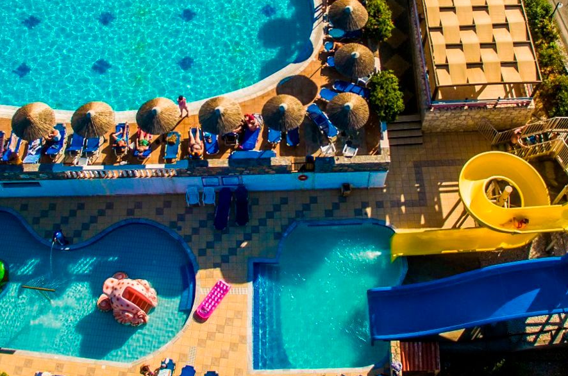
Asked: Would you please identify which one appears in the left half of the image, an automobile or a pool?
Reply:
pool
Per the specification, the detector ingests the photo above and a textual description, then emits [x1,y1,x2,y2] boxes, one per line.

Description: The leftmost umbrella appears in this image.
[14,103,55,143]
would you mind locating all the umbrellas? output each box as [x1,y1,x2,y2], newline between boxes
[14,103,55,143]
[198,98,241,138]
[135,97,179,139]
[327,95,368,136]
[330,2,367,42]
[75,104,116,142]
[264,96,303,136]
[334,45,374,83]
